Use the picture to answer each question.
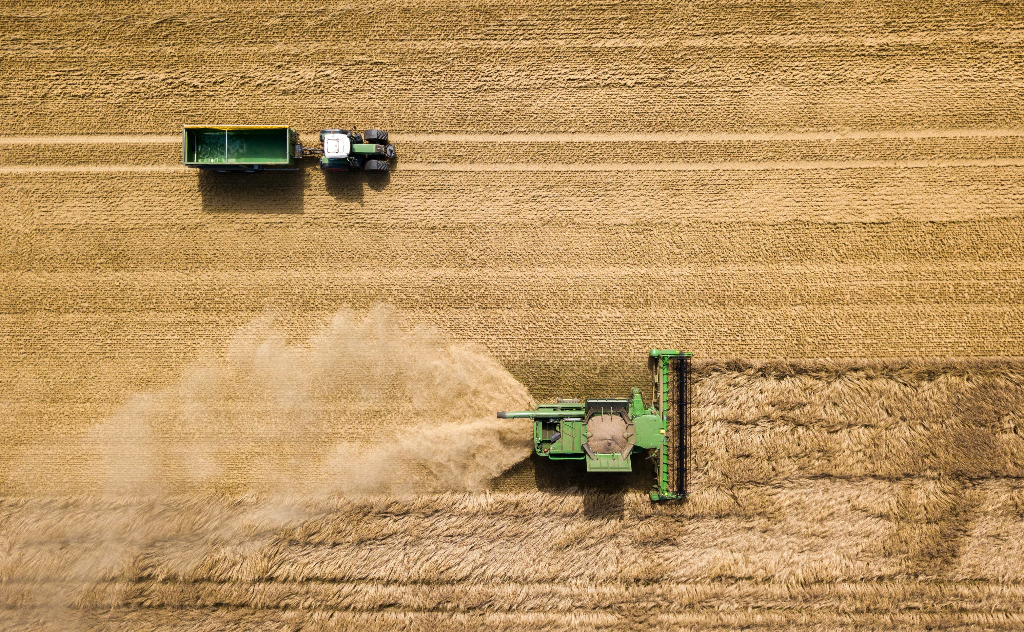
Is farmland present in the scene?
Yes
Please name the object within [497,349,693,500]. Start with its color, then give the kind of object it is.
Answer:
green work vehicle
